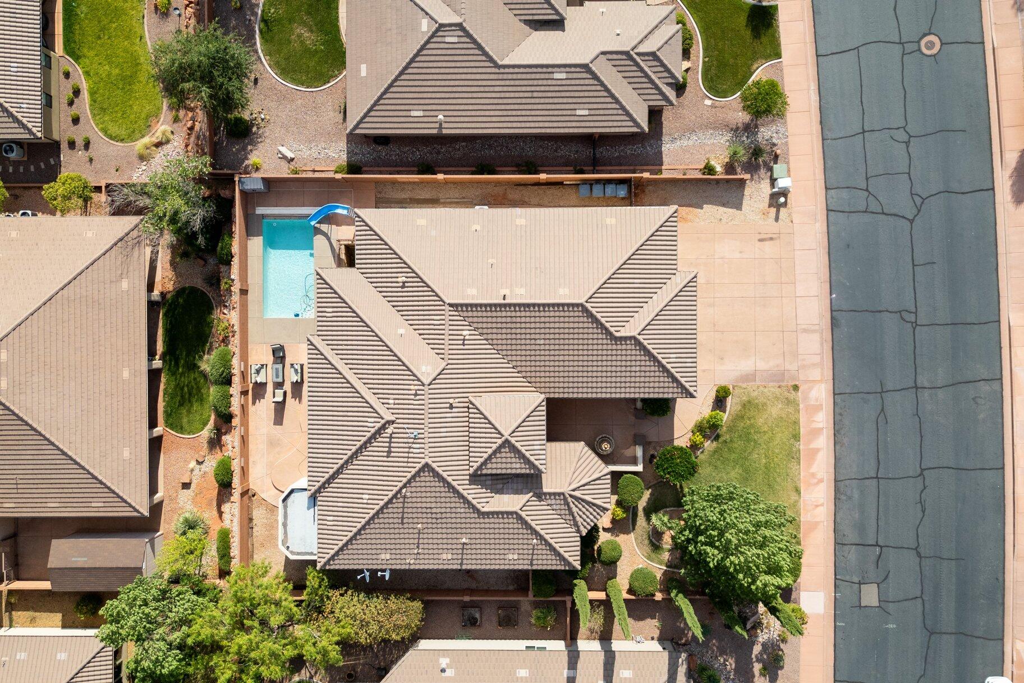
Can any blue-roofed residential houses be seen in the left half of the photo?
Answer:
No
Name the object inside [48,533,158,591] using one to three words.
shed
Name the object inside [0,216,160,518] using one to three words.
house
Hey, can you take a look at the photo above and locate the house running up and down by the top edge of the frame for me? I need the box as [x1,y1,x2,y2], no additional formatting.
[0,0,59,141]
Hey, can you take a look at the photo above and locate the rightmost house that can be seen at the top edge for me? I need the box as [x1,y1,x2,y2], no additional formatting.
[344,0,684,137]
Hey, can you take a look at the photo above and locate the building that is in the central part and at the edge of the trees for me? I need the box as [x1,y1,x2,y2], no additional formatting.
[279,205,700,572]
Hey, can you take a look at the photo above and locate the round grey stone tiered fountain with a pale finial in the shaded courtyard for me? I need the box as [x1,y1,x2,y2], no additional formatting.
[593,436,614,457]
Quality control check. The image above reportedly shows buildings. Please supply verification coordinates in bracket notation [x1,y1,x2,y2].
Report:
[0,627,122,683]
[344,0,684,137]
[279,205,700,572]
[0,216,160,518]
[0,0,59,141]
[48,533,158,591]
[378,639,690,683]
